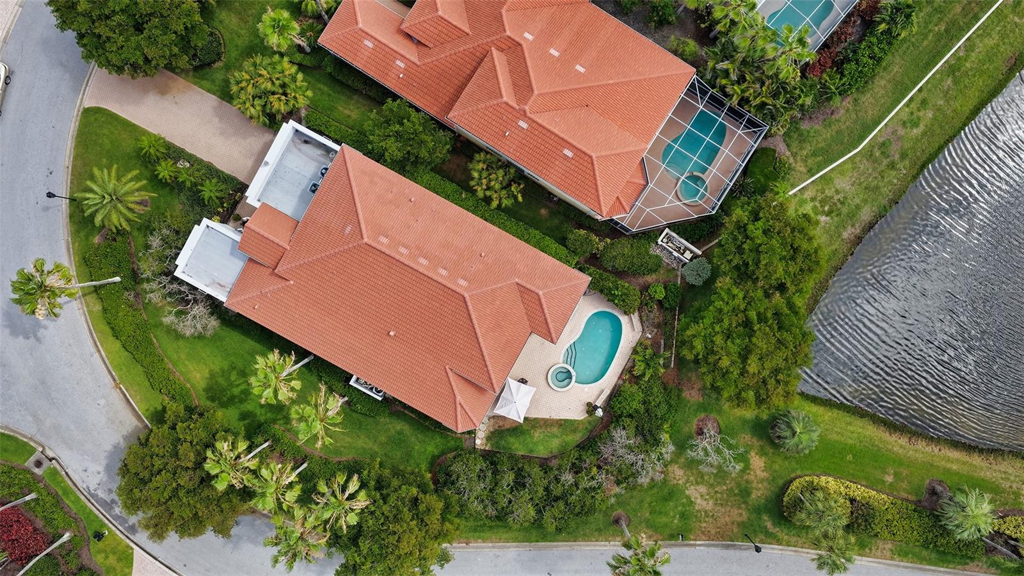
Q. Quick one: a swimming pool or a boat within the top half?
swimming pool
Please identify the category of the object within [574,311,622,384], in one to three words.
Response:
swimming pool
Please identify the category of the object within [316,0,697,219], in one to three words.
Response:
house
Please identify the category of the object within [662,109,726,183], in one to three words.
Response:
swimming pool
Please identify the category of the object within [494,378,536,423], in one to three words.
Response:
umbrella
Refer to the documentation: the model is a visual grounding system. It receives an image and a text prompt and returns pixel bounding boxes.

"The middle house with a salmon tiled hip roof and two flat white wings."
[174,120,592,433]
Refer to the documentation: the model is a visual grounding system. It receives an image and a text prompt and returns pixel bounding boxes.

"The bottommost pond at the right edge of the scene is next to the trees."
[798,76,1024,452]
